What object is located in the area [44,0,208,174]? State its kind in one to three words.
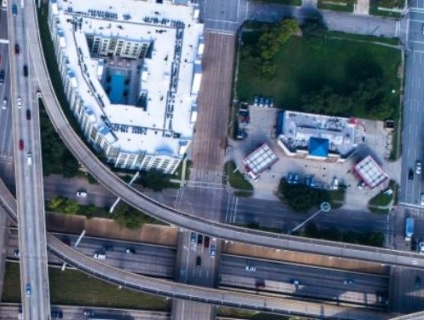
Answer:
building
